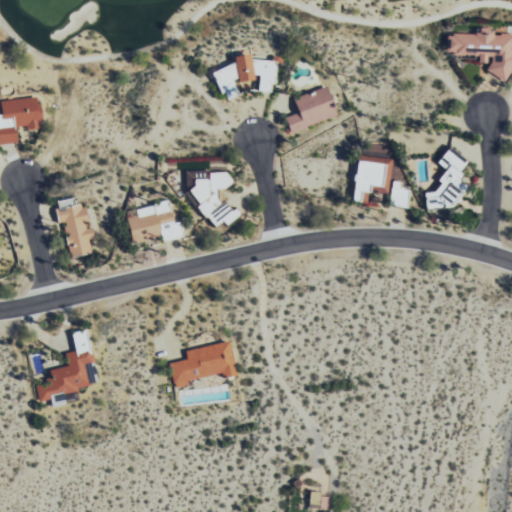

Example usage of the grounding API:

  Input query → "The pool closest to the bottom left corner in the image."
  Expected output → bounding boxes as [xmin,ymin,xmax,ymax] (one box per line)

[30,353,47,378]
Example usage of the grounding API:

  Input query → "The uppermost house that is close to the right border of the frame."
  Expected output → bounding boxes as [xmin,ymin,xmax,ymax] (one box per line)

[449,25,512,82]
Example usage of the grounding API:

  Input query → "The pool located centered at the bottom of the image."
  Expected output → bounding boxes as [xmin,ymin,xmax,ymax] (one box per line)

[178,384,230,408]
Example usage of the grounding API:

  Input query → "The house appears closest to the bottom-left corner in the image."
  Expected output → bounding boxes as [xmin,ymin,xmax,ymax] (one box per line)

[35,330,98,408]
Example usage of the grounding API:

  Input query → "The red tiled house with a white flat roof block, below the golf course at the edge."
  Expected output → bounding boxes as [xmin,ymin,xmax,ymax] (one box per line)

[0,97,42,143]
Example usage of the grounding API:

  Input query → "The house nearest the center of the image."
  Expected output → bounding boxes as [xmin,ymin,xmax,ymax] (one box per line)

[186,171,242,227]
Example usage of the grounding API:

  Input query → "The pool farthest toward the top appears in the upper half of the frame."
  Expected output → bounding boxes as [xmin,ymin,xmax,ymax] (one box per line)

[289,61,322,91]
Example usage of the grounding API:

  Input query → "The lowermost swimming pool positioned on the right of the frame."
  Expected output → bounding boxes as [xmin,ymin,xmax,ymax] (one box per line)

[409,157,437,190]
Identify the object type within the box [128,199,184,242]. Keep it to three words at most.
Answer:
house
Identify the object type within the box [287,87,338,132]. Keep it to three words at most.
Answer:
house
